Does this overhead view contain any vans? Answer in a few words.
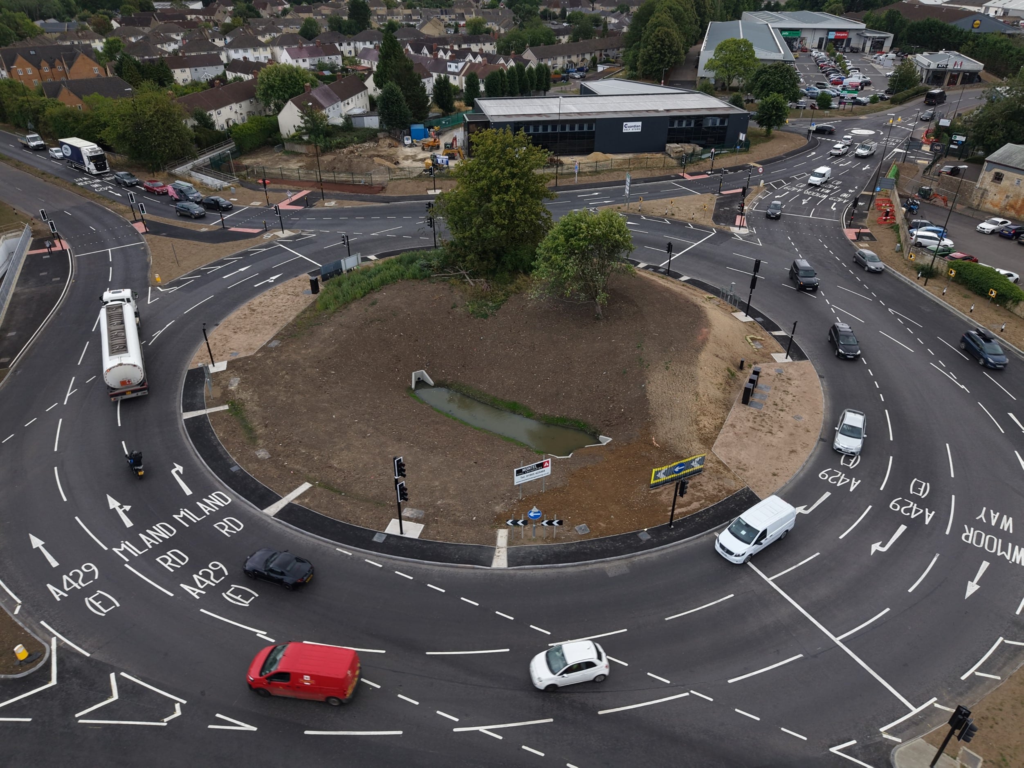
Yes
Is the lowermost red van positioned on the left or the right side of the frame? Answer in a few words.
left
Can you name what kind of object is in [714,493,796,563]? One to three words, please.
van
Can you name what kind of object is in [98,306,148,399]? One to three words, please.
truck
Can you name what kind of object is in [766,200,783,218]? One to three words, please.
car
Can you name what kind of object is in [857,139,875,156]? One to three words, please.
vehicle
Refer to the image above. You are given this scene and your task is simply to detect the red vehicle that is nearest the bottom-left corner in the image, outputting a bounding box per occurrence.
[248,642,366,707]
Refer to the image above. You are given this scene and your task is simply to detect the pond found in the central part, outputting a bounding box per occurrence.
[415,387,599,456]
